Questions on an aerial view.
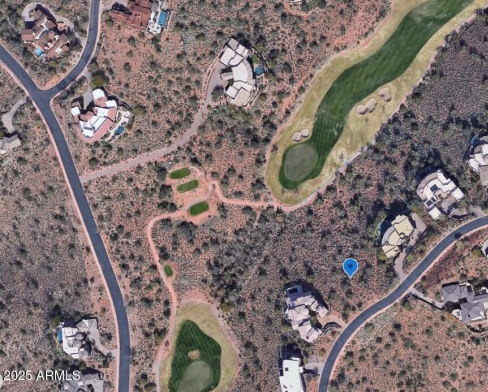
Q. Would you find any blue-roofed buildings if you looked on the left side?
No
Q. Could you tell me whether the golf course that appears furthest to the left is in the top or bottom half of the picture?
bottom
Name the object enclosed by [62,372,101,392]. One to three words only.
house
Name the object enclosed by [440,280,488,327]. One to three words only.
house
